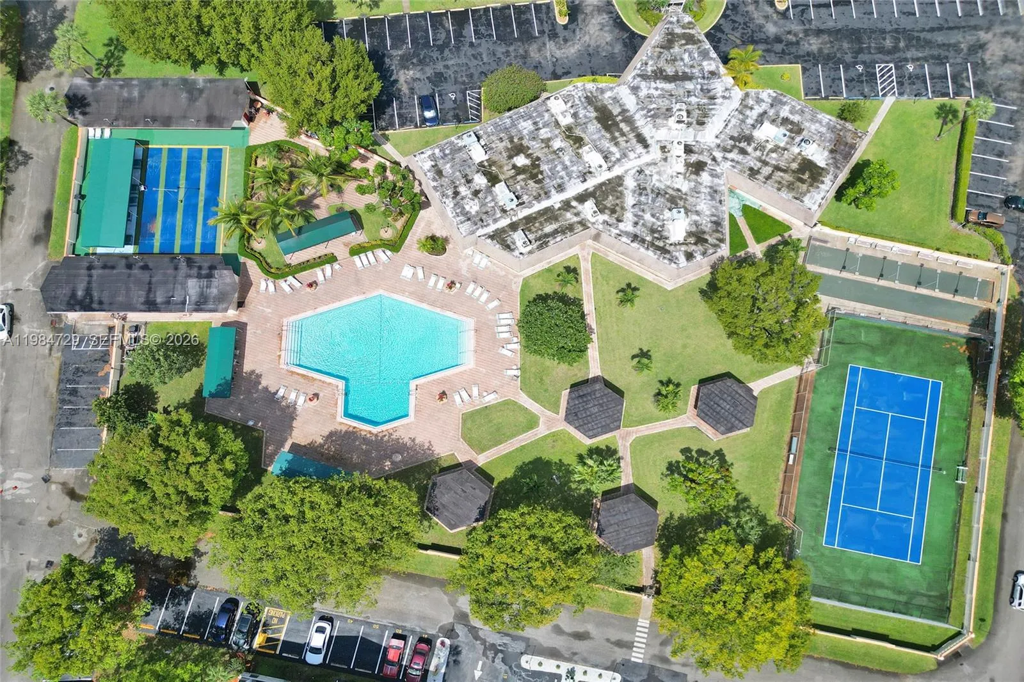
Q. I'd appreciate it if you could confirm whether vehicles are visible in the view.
Yes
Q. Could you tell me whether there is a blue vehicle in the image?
Yes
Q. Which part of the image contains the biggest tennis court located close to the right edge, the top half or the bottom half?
bottom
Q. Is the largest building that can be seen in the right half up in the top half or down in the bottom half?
top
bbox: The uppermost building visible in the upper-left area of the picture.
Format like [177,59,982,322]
[64,78,251,132]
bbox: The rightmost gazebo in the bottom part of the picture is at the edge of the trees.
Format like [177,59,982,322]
[687,378,757,441]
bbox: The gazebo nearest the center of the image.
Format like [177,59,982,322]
[559,382,625,444]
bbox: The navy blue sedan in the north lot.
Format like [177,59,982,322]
[419,90,438,126]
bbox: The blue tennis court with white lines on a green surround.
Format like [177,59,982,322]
[795,318,975,622]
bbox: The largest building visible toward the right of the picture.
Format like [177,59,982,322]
[404,11,871,280]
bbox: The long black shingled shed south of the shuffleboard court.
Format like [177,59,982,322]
[40,257,240,314]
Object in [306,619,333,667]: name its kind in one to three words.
car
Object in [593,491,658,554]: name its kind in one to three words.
gazebo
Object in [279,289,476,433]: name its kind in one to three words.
swimming pool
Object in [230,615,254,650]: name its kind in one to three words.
car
